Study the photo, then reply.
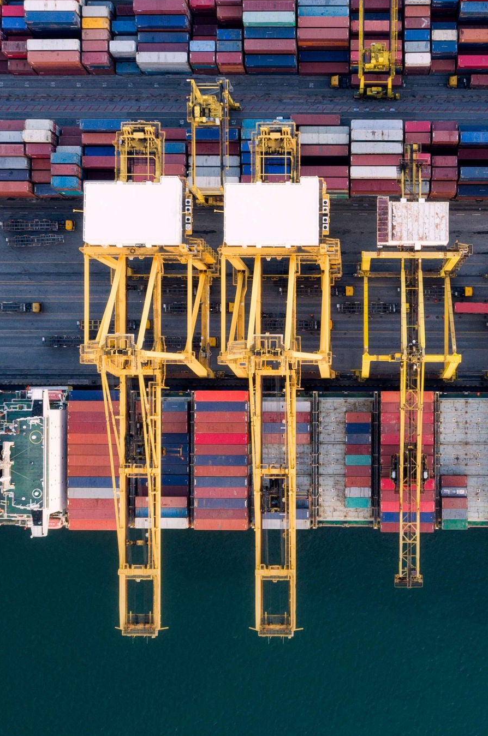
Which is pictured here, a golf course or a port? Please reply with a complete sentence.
It's a port.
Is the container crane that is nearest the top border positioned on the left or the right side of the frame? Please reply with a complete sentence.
It is on the right.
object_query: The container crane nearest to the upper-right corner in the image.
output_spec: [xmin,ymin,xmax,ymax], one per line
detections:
[353,0,401,98]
